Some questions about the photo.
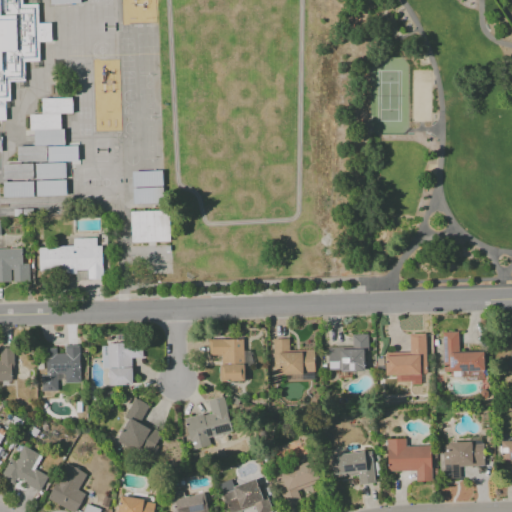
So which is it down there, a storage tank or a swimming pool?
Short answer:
swimming pool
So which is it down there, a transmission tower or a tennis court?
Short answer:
tennis court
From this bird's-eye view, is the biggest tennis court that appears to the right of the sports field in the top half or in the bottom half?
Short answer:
top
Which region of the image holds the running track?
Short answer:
top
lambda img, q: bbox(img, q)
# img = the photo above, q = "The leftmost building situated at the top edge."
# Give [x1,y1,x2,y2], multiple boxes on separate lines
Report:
[0,0,52,122]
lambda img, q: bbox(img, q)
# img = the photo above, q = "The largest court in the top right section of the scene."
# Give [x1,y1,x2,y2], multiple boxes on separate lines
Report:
[372,57,411,134]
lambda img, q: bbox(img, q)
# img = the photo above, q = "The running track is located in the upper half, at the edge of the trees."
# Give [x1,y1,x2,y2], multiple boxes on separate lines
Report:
[168,0,304,225]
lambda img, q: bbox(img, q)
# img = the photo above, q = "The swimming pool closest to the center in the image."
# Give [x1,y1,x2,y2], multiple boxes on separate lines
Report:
[284,382,306,402]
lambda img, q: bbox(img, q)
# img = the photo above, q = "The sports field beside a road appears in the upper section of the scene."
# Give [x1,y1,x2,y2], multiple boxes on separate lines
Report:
[160,0,304,280]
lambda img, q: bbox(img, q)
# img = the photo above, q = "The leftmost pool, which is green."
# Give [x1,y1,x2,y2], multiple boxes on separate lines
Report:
[50,402,72,416]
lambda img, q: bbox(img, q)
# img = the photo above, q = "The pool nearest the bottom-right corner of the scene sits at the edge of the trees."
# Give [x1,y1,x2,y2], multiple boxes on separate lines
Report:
[455,414,480,436]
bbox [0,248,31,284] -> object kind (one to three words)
house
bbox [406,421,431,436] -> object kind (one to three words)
swimming pool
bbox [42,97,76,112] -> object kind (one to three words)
building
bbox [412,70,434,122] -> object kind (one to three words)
sports court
